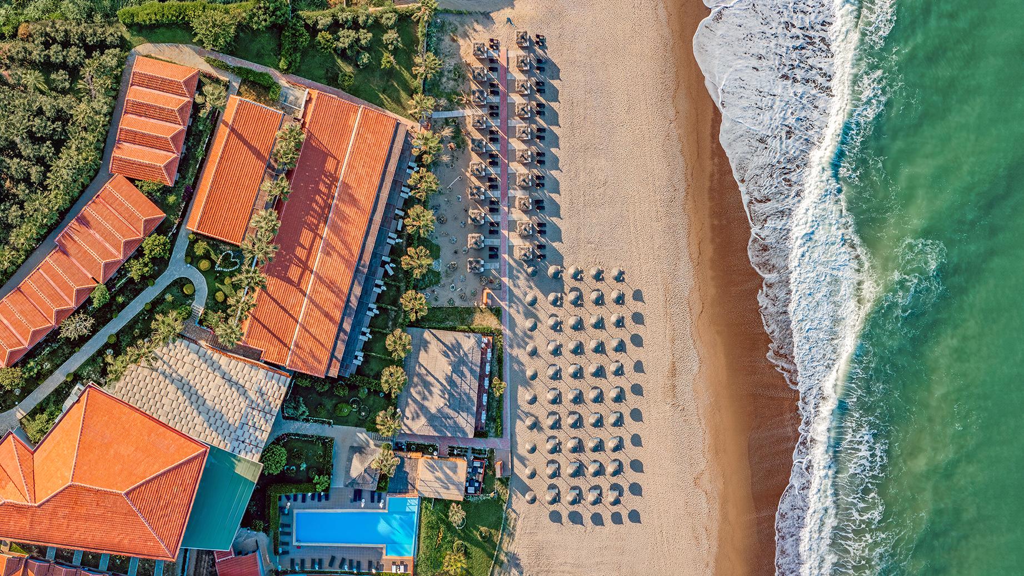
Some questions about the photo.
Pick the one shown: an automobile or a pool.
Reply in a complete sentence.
This aerial view contains a pool.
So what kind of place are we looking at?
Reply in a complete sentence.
It's a beach.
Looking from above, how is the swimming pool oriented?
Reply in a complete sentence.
I'd say the swimming pool is aligned horizontally in the picture.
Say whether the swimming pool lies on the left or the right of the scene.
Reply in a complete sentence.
The swimming pool sits on the left side.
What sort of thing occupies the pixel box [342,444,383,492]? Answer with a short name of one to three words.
gazebo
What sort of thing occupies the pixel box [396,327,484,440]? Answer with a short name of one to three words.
building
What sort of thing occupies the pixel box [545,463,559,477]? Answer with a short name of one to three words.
umbrella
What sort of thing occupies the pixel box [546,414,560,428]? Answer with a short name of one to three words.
umbrella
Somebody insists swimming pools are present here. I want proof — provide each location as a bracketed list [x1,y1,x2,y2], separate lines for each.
[292,496,420,558]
